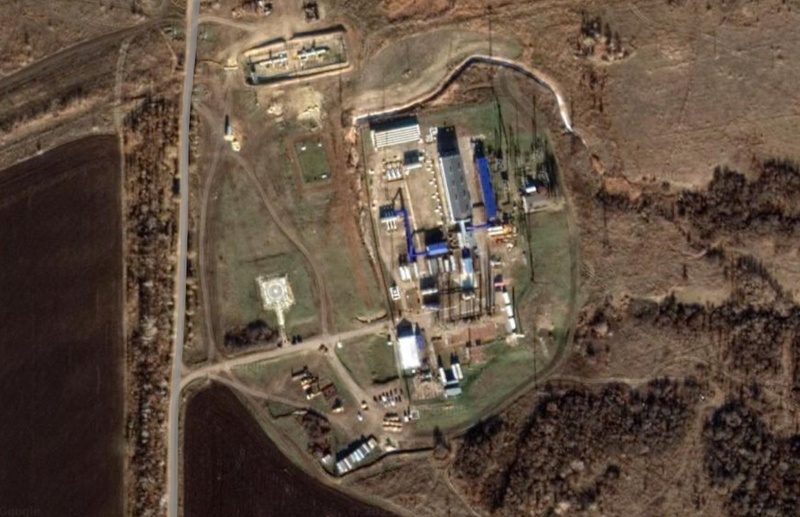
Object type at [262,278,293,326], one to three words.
helipad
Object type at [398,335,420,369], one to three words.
building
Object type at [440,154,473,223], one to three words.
building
